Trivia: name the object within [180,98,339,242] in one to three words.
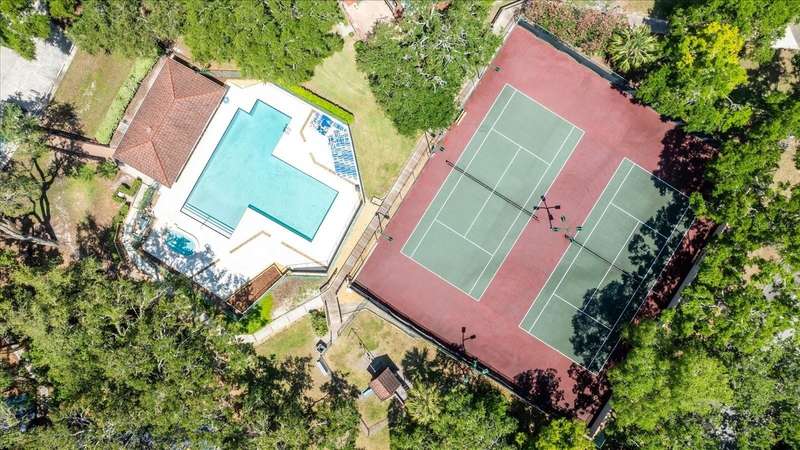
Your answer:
swimming pool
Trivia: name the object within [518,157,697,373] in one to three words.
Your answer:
tennis court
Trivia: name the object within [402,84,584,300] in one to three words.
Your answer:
tennis court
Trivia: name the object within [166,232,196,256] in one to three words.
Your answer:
swimming pool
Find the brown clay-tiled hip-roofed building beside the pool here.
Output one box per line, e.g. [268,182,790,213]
[111,55,229,187]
